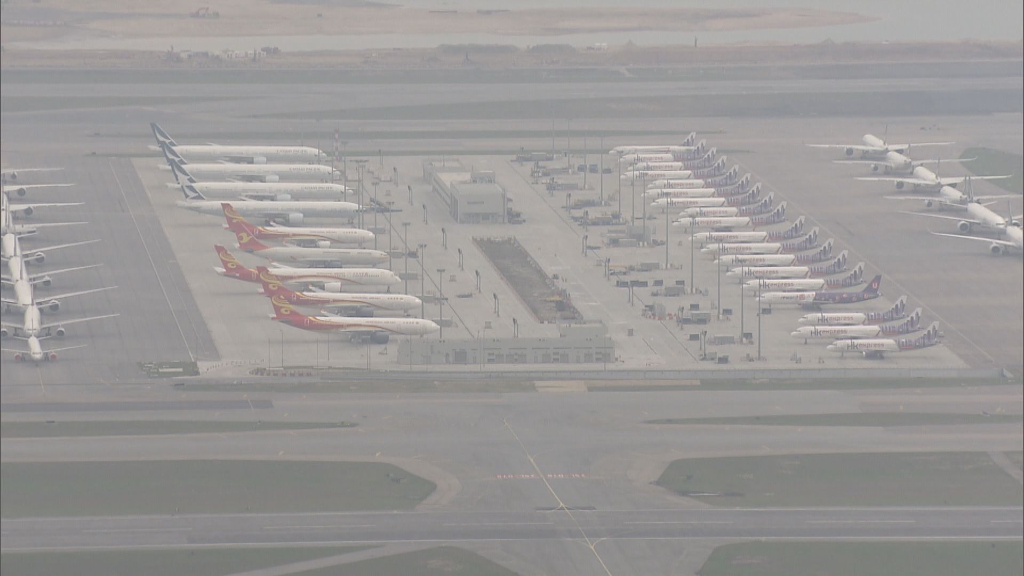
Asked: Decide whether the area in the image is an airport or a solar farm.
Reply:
airport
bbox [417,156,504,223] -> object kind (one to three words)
building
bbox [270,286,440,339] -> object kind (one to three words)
airplane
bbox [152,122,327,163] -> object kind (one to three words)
airplane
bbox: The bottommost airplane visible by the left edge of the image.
[0,326,86,365]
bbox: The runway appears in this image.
[0,506,1024,547]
